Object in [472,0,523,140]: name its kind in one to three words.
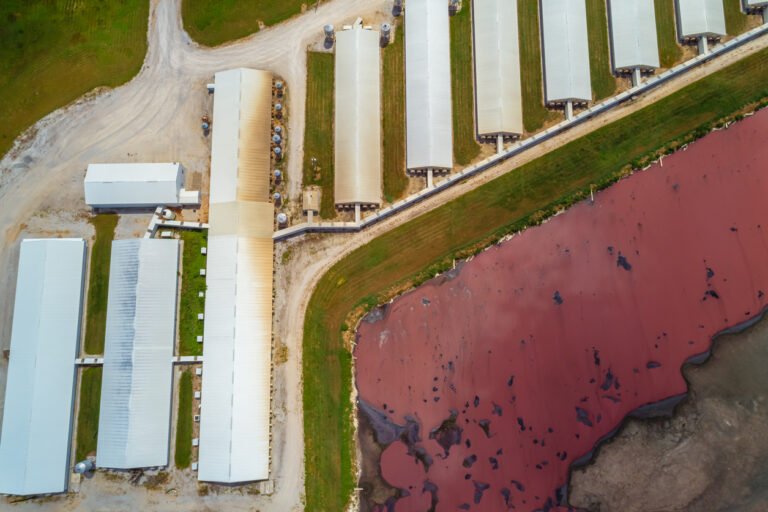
barn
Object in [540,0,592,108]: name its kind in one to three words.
barn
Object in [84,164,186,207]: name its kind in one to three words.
shed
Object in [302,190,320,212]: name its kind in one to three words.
shed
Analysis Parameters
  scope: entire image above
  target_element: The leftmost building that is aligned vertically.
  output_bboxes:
[0,238,91,495]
